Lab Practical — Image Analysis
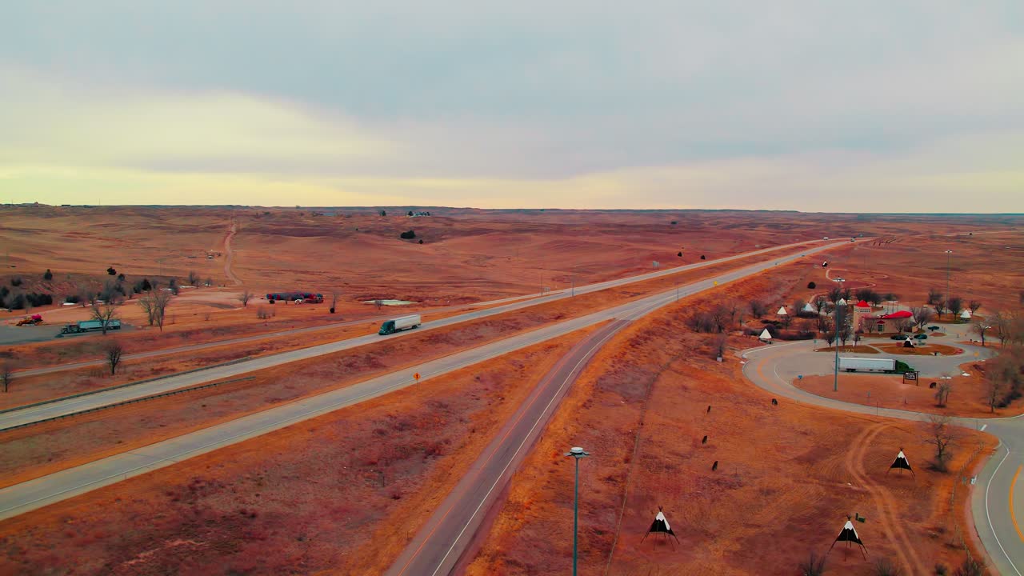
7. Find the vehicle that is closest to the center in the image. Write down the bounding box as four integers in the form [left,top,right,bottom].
[379,315,420,334]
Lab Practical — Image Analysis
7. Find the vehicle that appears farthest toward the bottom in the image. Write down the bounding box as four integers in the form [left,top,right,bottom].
[838,357,910,373]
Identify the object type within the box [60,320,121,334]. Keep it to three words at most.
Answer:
vehicle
